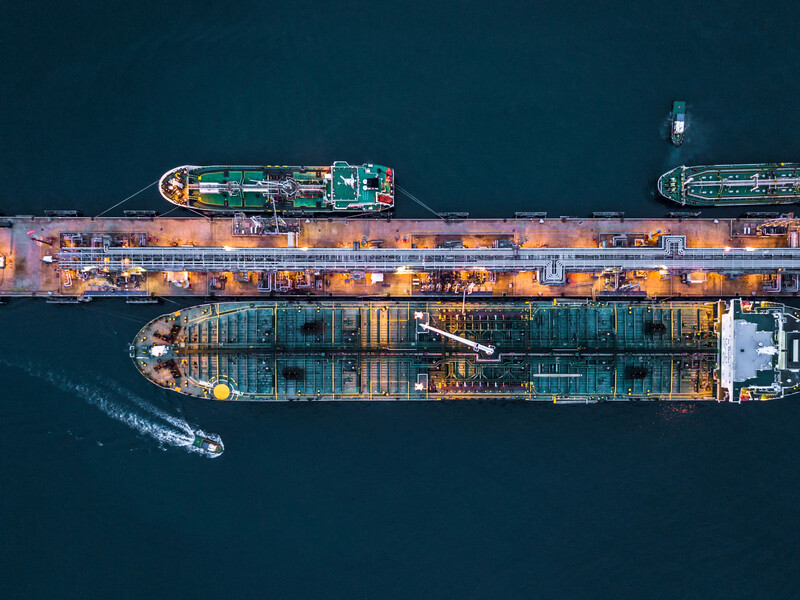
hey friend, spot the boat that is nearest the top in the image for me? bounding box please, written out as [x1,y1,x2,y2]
[670,101,686,147]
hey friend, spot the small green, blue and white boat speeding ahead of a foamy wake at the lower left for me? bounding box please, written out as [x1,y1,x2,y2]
[193,437,225,453]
